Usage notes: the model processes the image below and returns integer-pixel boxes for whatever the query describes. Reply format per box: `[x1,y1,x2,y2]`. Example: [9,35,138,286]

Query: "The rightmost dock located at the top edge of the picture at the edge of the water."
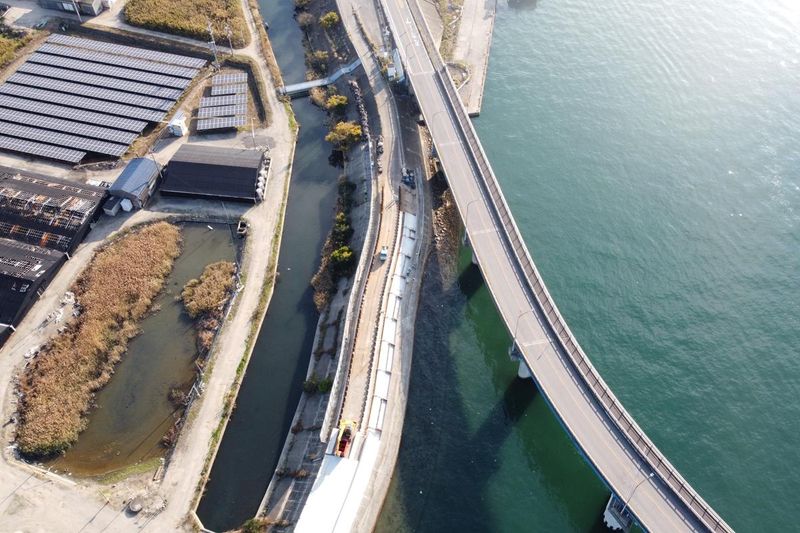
[452,0,498,122]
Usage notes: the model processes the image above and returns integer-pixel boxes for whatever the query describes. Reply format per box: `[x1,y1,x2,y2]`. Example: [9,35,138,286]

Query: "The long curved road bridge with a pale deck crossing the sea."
[377,0,741,533]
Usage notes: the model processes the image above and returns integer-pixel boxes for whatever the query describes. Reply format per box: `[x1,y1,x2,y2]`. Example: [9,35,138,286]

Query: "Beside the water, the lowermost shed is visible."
[0,240,66,336]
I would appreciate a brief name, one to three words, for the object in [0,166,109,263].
shed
